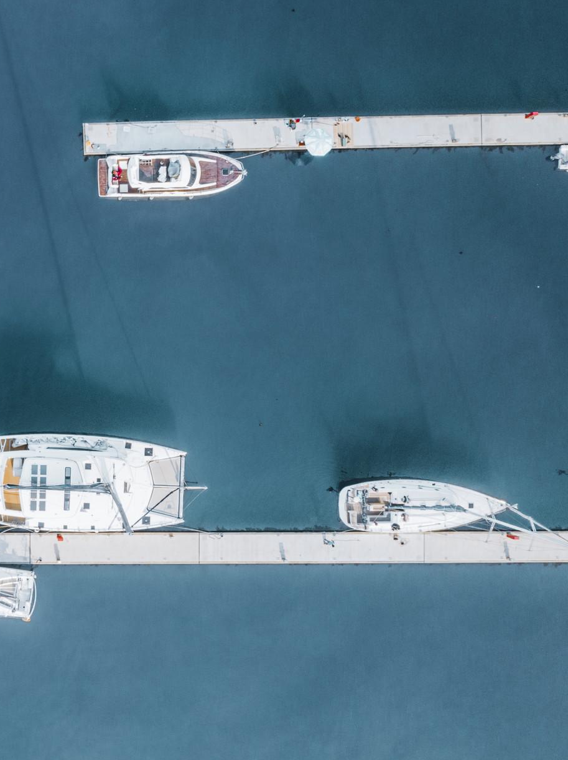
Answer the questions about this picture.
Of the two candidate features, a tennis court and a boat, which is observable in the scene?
boat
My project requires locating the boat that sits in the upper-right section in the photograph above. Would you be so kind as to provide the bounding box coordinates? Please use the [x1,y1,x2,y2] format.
[547,145,568,170]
